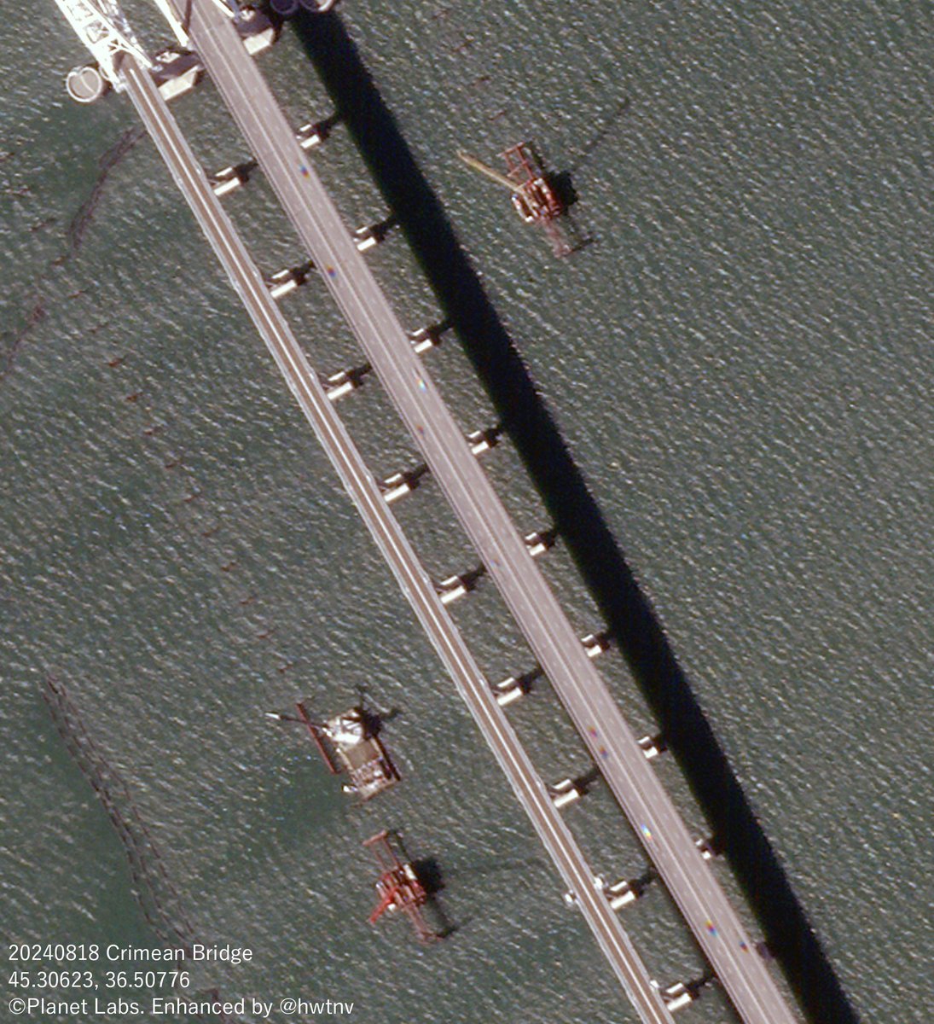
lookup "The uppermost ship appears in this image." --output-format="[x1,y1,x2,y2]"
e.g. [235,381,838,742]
[458,144,572,259]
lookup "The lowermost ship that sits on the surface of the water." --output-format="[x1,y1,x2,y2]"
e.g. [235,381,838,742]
[367,832,437,943]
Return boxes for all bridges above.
[151,0,797,1024]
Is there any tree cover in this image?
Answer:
No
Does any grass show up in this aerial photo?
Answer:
No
